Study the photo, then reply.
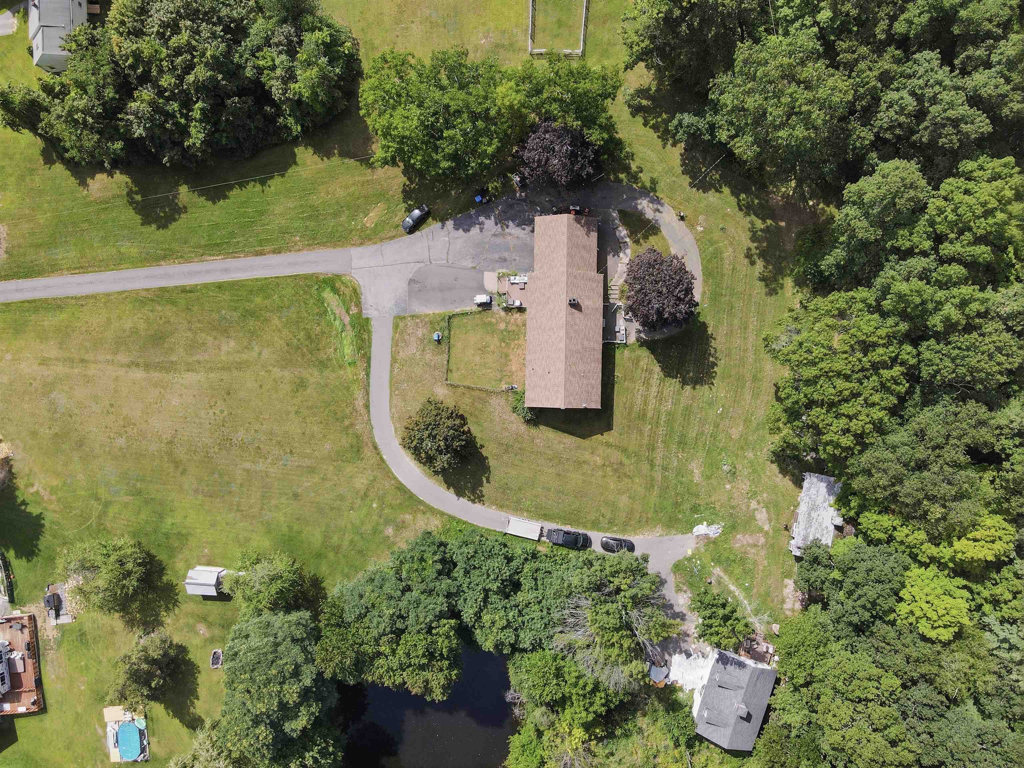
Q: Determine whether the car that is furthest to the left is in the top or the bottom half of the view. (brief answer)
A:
top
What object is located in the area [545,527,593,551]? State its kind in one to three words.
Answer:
truck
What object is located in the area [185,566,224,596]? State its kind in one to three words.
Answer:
shed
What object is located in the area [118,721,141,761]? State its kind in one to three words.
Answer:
swimming pool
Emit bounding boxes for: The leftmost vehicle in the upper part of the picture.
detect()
[399,201,430,235]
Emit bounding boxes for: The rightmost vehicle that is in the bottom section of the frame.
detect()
[599,534,636,555]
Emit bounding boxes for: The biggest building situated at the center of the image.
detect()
[524,214,605,410]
